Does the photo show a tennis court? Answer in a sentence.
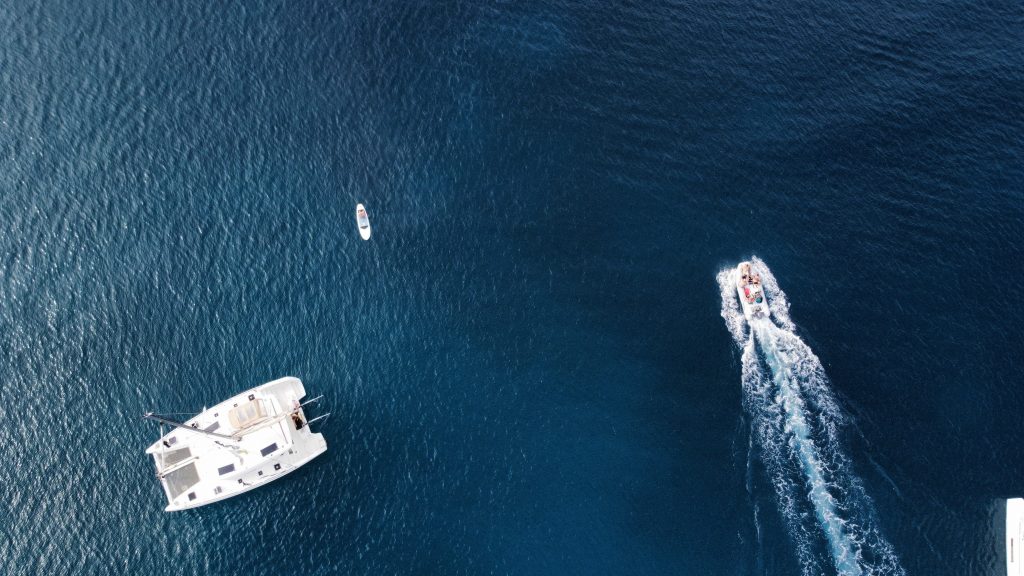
No, the photo shows no tennis court.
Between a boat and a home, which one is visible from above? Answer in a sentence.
The image shows a boat.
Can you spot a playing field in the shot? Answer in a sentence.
No, there isn't any playing field down there.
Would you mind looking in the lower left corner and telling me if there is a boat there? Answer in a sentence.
Yes, in the lower left corner there is a boat.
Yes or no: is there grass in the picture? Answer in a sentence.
No, there's no grass in this view.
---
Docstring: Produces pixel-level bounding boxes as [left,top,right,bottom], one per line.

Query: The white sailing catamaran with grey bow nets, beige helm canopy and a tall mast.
[135,379,329,514]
